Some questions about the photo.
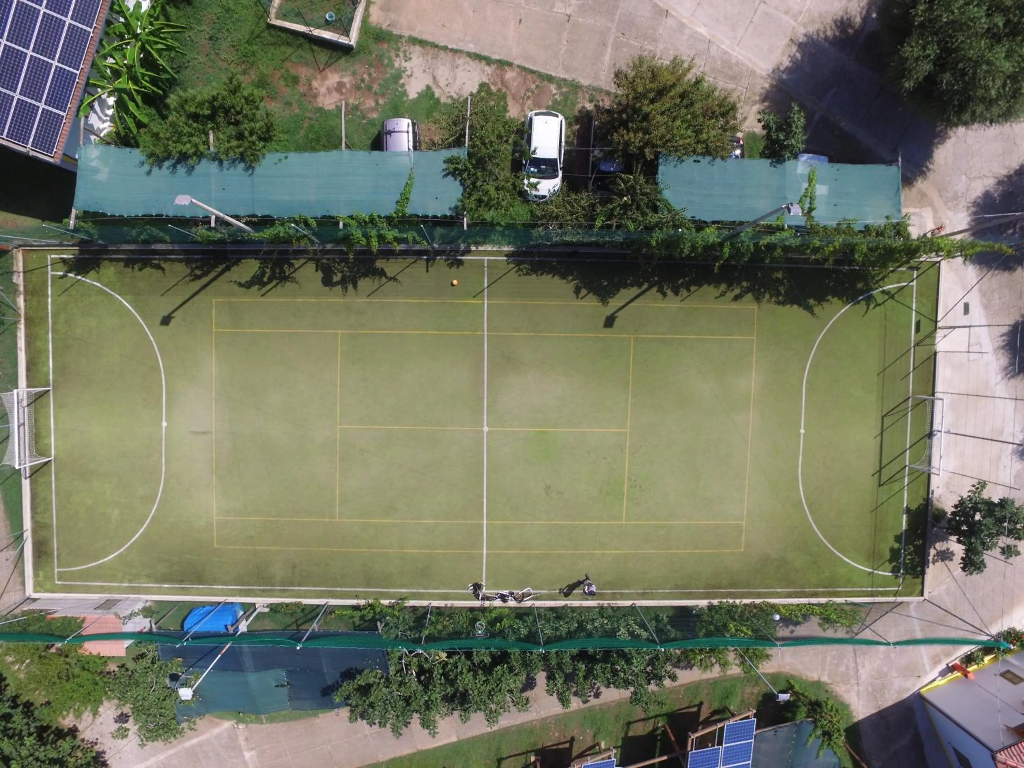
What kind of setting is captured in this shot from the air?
sports ground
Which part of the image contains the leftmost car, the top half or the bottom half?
top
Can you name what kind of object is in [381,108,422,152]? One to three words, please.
car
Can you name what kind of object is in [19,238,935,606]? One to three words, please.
sports field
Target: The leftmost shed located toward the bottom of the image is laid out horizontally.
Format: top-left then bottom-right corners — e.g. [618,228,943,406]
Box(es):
[26,603,170,656]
